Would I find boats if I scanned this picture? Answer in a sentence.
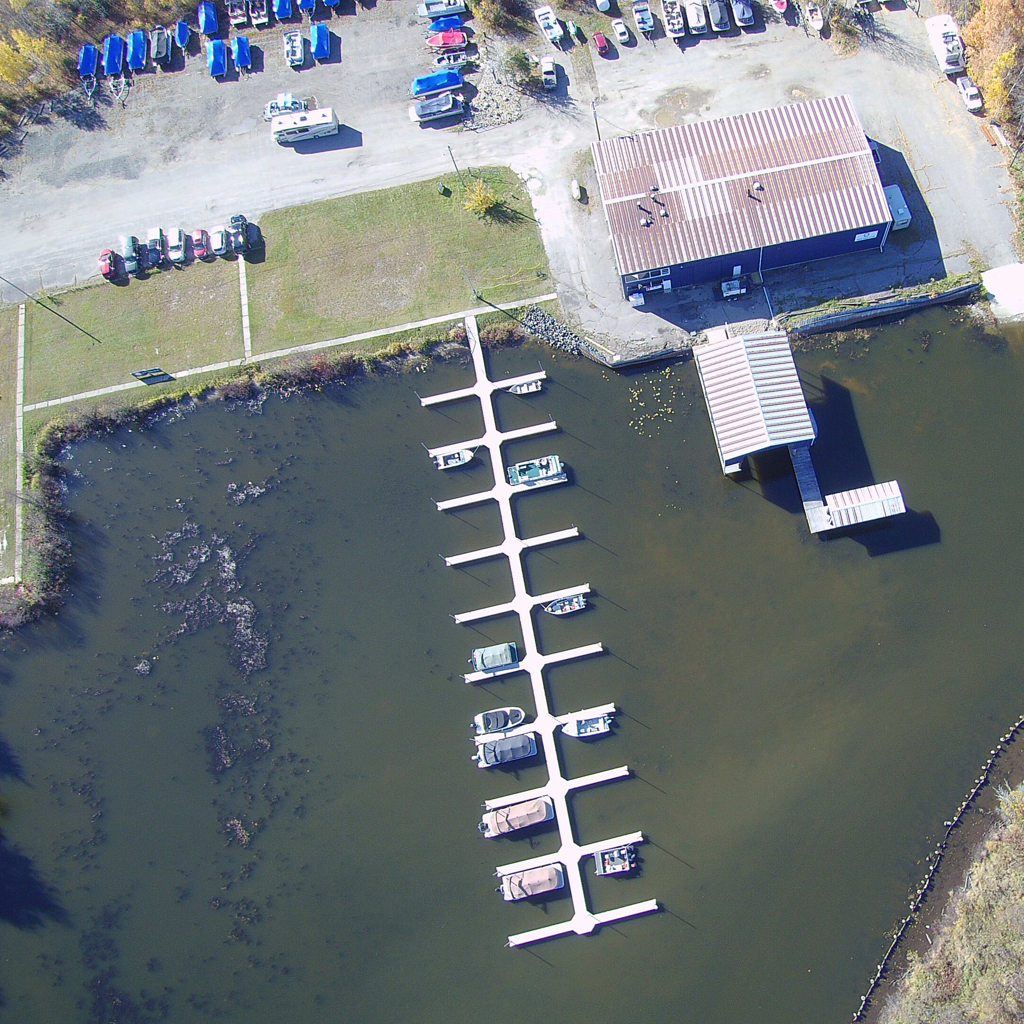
Yes, this view includes a boat.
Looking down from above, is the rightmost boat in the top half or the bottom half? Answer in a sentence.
The rightmost boat sits in the top half of the picture.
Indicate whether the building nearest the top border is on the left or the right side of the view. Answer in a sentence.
You can find the building nearest the top border on the right side of the picture.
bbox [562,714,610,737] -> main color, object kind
white boat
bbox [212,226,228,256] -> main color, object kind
white car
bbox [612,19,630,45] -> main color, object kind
white car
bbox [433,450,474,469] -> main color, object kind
white boat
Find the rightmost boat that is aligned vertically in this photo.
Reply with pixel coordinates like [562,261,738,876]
[929,19,963,78]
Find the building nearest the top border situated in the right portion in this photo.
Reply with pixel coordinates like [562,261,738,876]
[590,95,891,299]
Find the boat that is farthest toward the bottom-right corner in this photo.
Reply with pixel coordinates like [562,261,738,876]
[596,846,632,876]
